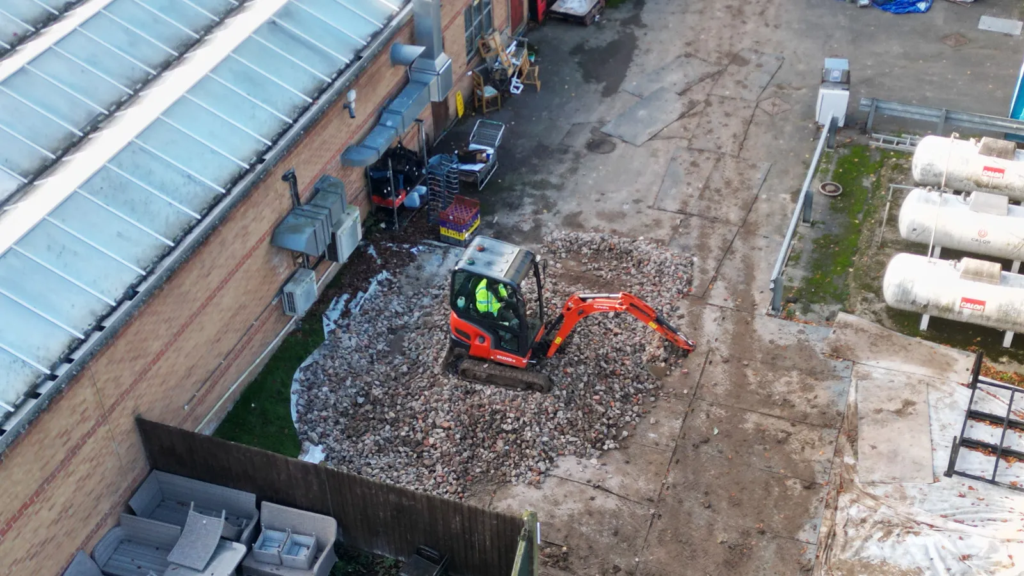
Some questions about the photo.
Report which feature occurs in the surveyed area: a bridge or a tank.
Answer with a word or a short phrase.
tank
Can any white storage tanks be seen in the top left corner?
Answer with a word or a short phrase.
No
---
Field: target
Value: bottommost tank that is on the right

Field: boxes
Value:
[884,251,1024,358]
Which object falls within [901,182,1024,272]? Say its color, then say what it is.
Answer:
white storage tank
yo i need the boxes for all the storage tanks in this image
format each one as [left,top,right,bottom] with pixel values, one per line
[884,251,1024,358]
[916,123,1024,199]
[901,182,1024,272]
